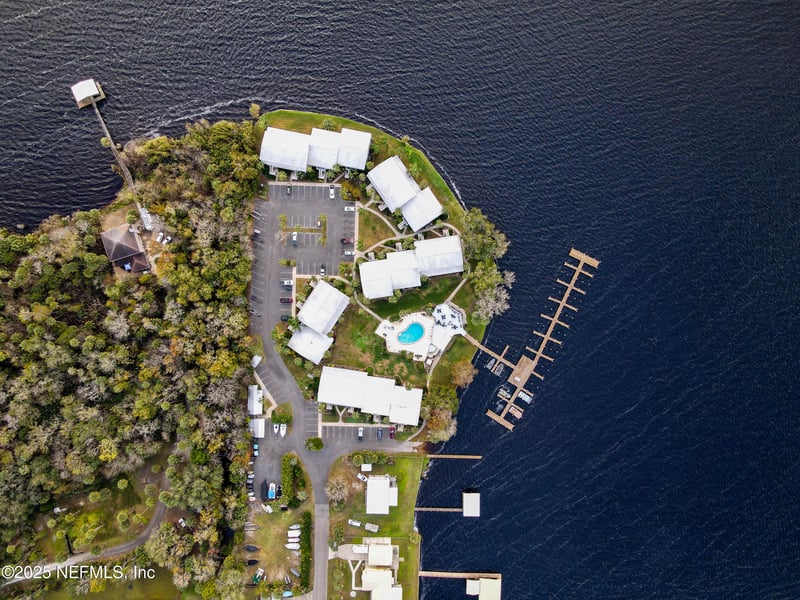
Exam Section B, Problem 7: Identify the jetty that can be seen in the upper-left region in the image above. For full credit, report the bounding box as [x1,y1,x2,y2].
[92,103,142,209]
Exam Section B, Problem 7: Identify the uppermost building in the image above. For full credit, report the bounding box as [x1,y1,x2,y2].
[71,79,105,109]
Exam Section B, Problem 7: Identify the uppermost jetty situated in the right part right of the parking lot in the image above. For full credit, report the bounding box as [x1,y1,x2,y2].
[462,248,600,430]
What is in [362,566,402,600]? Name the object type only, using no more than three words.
house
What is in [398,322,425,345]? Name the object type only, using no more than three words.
swimming pool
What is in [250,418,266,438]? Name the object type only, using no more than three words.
shed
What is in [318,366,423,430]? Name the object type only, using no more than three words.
building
